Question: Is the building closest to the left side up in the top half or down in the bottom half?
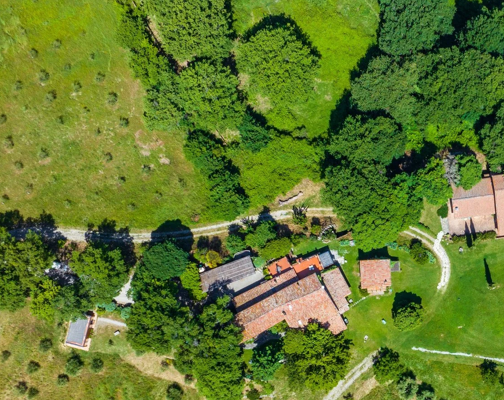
bottom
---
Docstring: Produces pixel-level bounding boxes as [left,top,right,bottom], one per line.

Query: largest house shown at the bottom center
[234,253,352,347]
